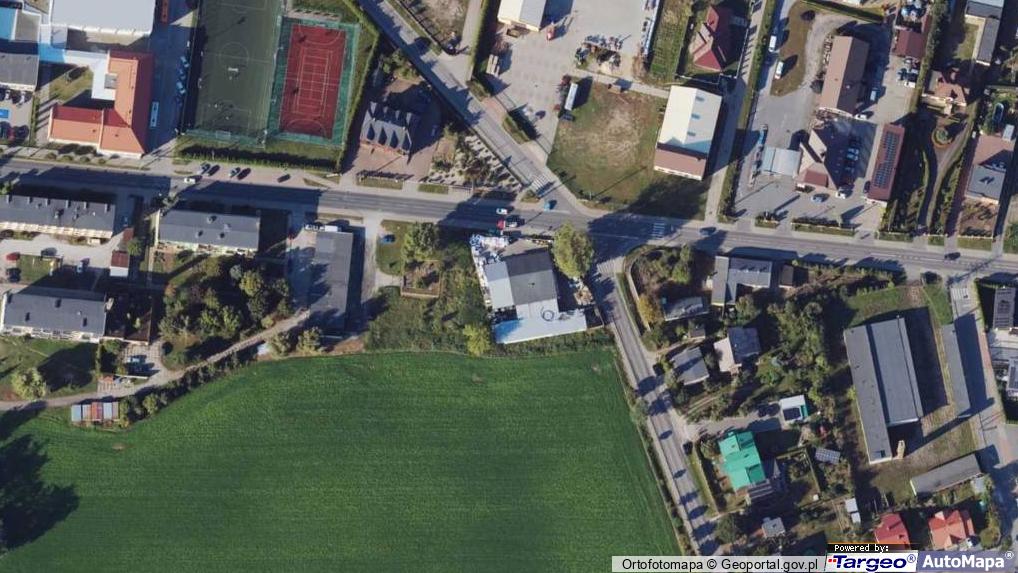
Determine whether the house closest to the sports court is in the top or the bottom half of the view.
top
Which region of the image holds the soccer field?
top left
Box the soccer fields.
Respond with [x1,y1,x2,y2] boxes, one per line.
[184,0,281,145]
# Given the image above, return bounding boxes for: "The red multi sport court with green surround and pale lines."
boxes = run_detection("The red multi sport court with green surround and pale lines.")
[268,16,360,145]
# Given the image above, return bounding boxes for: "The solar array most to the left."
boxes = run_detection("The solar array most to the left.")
[813,448,839,464]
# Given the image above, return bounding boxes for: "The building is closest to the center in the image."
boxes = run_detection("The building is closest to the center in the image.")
[484,247,587,346]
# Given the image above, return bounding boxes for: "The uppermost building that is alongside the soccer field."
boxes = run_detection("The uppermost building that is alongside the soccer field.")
[39,0,159,50]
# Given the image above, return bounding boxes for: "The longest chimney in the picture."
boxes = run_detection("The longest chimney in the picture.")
[894,446,908,462]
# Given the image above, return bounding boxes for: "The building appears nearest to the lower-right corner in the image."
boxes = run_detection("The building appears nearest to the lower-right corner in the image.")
[928,510,975,557]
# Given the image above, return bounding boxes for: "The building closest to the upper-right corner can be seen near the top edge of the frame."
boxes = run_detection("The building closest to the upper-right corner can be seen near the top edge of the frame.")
[963,0,1003,68]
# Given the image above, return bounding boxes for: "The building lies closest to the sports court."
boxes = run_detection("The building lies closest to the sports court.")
[361,100,413,157]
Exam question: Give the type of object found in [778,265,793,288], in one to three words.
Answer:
shed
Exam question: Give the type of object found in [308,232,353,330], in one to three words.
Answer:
building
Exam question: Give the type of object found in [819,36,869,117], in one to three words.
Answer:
barn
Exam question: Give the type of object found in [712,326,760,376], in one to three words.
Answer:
house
